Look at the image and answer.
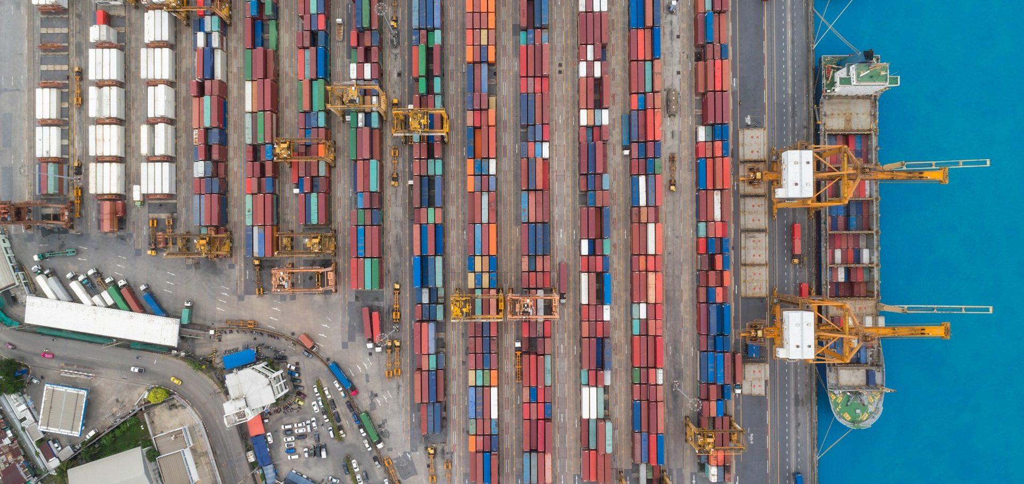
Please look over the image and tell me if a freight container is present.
Yes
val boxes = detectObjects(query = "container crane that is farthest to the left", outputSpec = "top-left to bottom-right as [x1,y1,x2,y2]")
[0,199,73,231]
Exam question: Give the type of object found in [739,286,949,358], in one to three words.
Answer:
container crane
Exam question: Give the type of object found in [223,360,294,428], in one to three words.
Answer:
building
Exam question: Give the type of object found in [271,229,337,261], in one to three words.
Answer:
container crane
